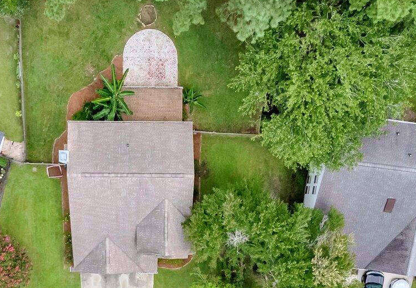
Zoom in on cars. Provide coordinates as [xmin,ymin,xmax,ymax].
[362,270,385,288]
[389,277,410,288]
